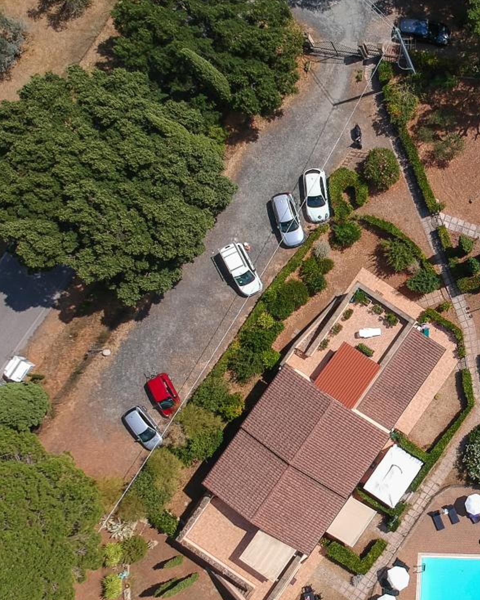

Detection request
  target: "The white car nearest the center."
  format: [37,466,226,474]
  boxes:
[220,242,262,299]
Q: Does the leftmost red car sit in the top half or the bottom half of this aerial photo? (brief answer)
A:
bottom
